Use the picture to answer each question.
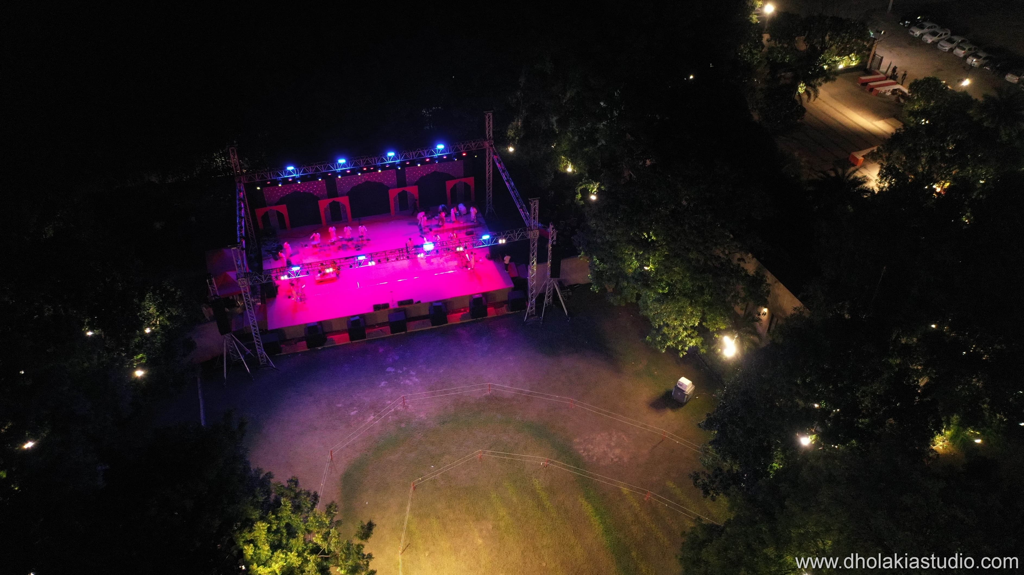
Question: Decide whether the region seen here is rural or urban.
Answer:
rural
